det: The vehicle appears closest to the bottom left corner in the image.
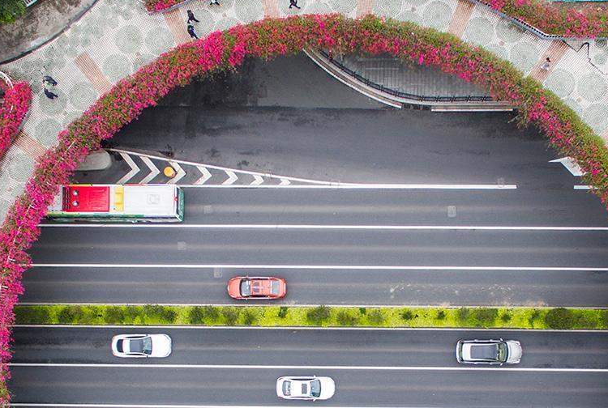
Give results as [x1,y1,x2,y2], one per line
[112,332,172,359]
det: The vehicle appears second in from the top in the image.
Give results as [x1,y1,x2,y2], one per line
[229,274,286,301]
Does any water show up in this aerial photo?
No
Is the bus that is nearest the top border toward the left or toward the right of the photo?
left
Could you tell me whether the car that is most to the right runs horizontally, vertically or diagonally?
horizontally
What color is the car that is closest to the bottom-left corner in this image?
white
